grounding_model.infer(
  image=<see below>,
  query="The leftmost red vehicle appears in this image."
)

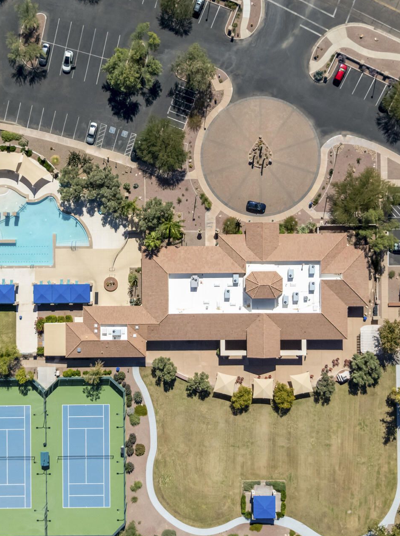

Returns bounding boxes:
[333,63,347,85]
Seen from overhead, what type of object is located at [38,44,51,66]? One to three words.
vehicle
